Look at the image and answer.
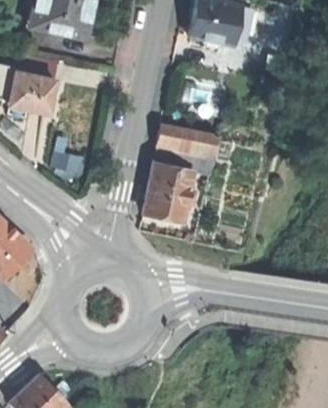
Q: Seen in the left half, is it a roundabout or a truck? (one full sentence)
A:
It is a roundabout that can be seen in the left half.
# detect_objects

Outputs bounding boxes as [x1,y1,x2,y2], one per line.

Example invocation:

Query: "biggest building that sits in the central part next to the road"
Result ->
[142,160,201,226]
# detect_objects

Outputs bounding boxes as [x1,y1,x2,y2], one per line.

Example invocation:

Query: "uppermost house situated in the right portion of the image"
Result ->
[190,0,246,49]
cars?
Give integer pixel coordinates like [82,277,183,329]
[64,40,82,50]
[114,110,123,128]
[135,10,146,30]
